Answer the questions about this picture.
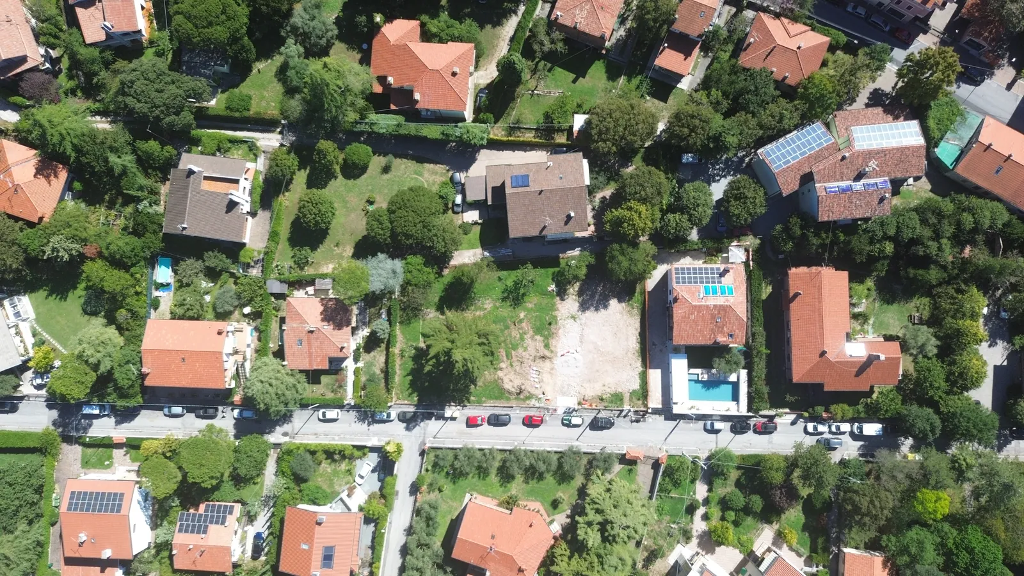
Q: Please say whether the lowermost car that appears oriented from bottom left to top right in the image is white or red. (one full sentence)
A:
In this view, the lowermost car that appears oriented from bottom left to top right is white.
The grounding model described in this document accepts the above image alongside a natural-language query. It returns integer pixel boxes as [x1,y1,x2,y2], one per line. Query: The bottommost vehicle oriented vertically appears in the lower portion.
[253,533,265,557]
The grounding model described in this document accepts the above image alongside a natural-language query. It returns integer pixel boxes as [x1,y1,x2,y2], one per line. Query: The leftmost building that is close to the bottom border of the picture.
[60,471,151,576]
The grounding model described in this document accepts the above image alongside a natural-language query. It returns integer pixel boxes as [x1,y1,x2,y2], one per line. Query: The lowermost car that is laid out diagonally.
[354,459,375,485]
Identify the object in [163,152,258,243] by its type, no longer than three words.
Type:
house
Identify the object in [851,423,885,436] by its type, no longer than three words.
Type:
vehicle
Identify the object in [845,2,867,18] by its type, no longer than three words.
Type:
car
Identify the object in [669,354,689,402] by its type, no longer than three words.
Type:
building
